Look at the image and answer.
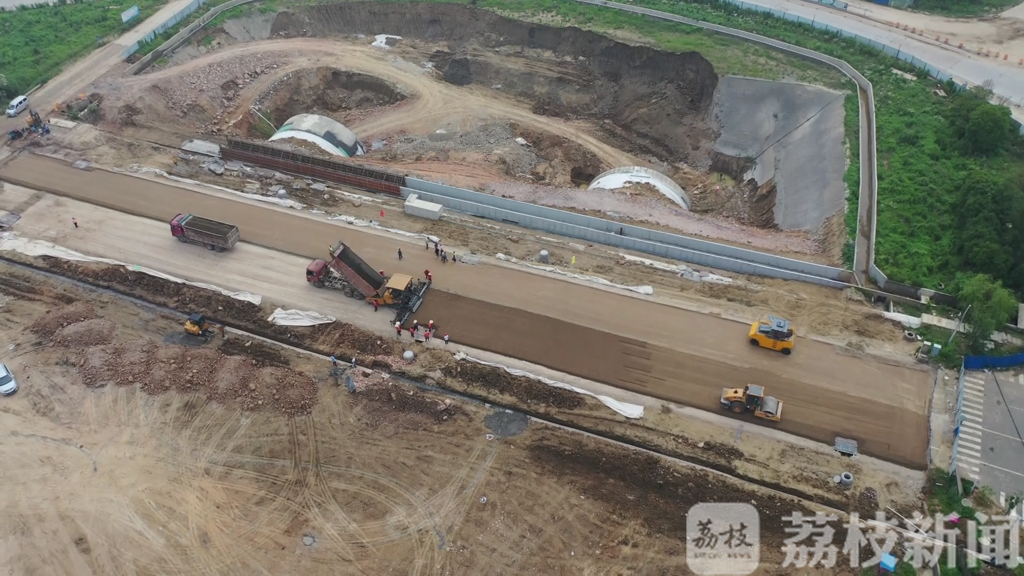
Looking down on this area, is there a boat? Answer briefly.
No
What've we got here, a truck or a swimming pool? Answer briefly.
truck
